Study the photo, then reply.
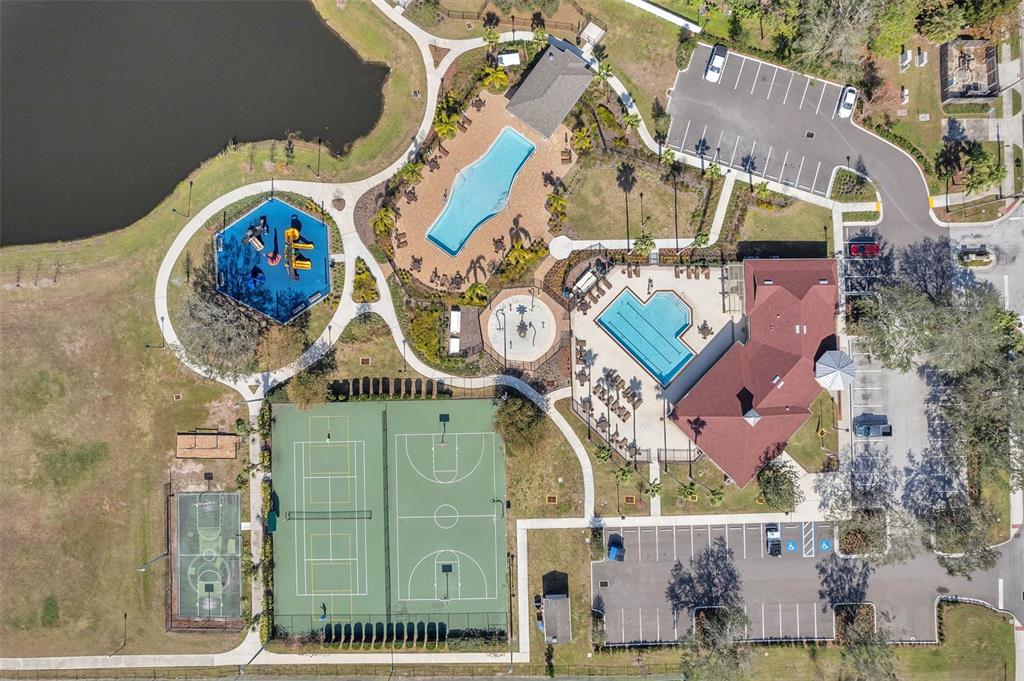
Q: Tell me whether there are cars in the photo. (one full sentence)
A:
Yes, a car is visible in the scene.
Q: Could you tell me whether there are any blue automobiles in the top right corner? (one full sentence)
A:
No, no blue automobile is visible in the top right corner.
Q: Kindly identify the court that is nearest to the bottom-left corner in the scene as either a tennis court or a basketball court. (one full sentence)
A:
Specifically, the court that is nearest to the bottom-left corner is a basketball court.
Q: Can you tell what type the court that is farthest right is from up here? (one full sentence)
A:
The court that is farthest right is a basketball court.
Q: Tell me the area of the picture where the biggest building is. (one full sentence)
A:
The biggest building is located in the right region of the scene.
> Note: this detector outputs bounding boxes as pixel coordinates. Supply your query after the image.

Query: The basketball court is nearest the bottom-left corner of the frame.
[178,493,241,616]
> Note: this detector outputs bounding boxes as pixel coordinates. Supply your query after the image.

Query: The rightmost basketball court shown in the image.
[386,399,507,636]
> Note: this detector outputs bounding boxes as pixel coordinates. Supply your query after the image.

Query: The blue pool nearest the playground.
[425,126,538,257]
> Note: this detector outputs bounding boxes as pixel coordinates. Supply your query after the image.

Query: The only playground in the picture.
[215,197,330,324]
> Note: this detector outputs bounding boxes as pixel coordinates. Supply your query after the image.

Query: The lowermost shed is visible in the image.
[544,592,571,643]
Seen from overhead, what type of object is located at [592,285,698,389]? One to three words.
swimming pool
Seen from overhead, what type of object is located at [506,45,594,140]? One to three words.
building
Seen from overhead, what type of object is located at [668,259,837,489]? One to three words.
building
